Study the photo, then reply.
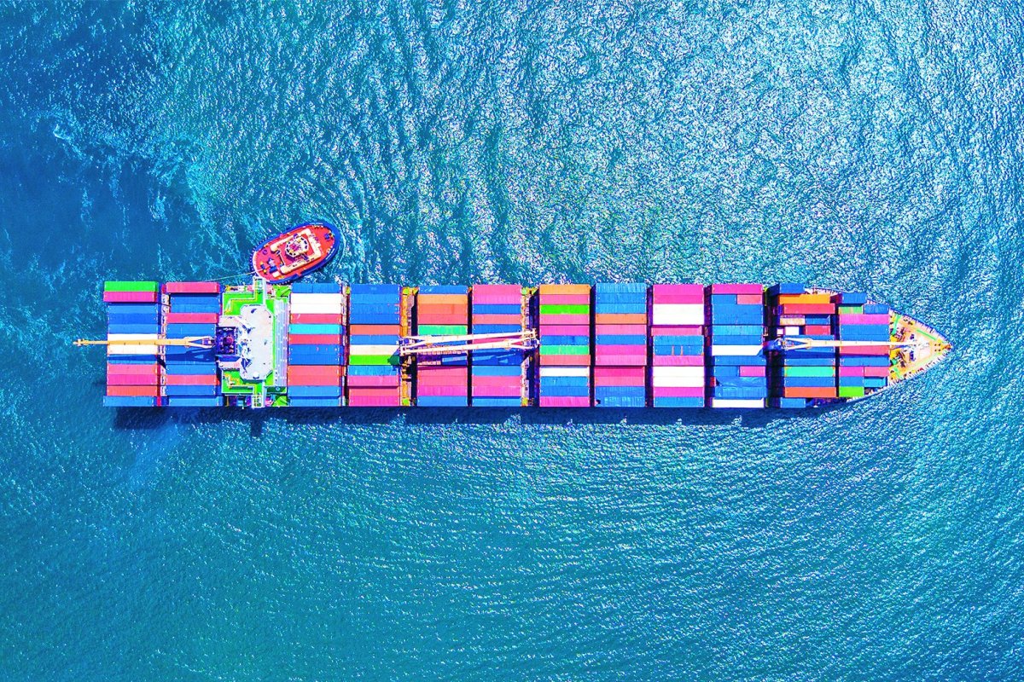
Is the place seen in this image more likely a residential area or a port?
port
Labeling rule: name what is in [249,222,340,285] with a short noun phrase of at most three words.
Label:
boat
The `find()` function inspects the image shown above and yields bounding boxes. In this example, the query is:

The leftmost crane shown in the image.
[72,333,218,349]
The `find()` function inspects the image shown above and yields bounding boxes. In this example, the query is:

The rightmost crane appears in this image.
[759,334,920,351]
